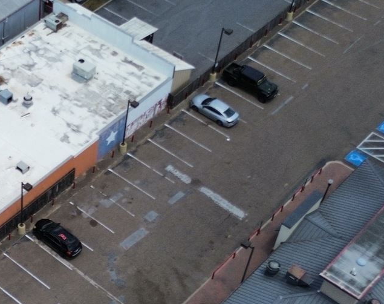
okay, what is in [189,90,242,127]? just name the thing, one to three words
car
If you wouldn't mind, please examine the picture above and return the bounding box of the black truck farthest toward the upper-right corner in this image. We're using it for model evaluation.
[221,59,284,99]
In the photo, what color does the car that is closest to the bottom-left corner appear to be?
black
